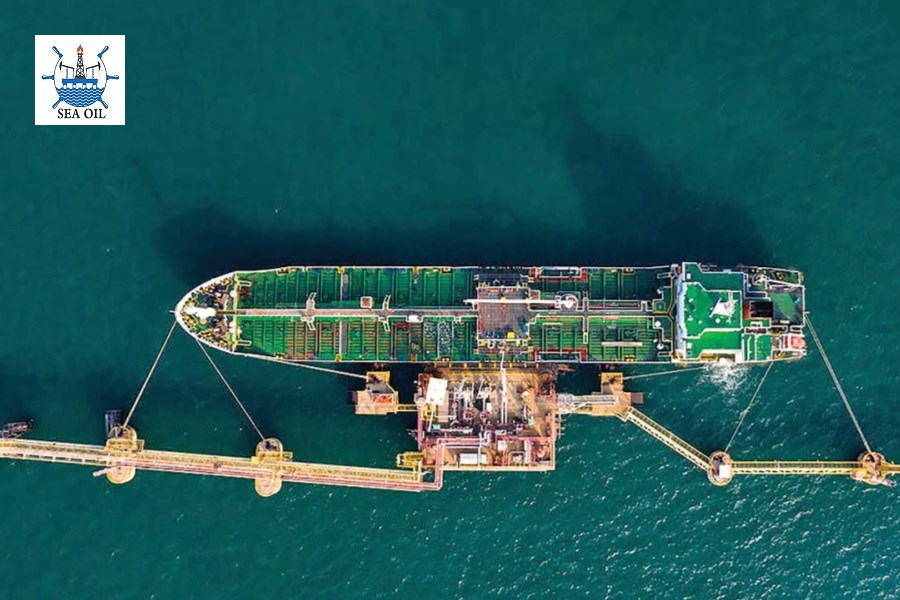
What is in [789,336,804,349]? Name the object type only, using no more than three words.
boat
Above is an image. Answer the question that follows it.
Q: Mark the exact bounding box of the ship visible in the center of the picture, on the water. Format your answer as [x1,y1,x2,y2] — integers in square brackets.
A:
[170,262,809,363]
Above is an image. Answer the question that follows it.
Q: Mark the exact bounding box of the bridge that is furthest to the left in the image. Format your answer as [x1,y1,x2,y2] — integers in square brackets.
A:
[0,438,428,488]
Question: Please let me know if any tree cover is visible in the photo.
No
